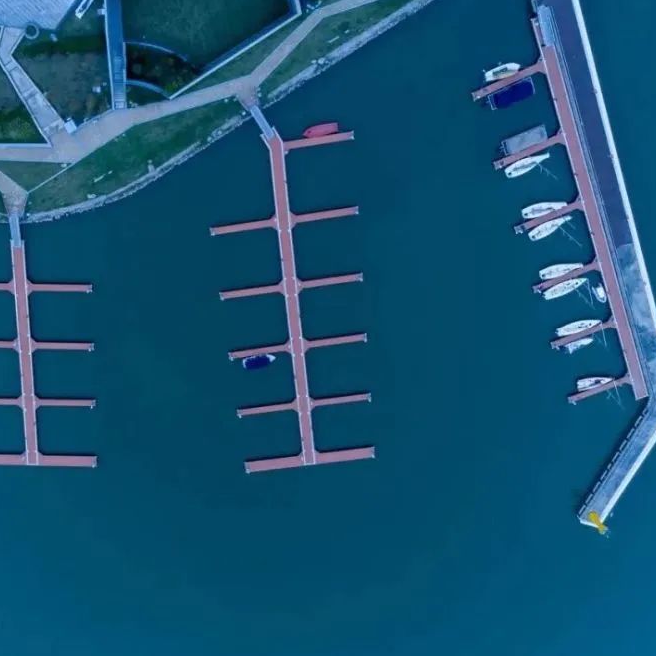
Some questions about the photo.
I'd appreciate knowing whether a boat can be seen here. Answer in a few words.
Yes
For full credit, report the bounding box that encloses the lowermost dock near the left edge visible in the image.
[0,238,98,470]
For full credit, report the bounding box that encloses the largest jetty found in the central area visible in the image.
[210,126,375,475]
